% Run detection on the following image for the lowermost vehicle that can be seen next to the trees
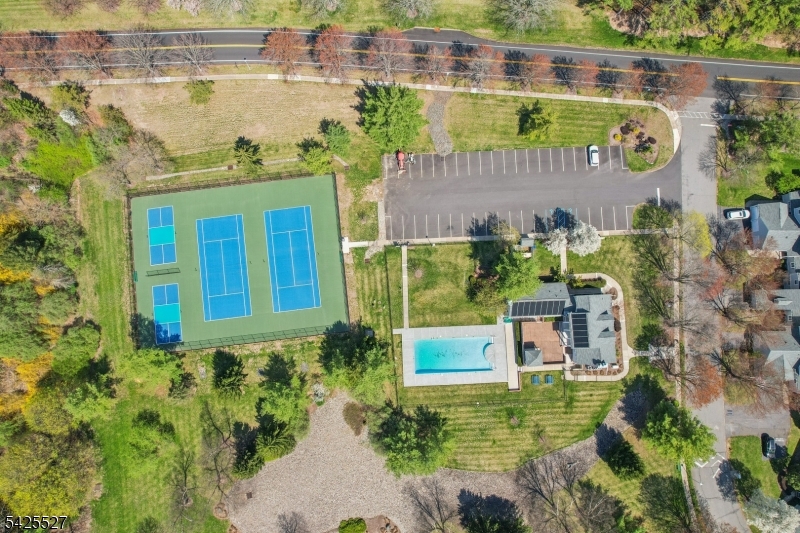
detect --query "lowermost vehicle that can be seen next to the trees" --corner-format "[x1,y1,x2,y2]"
[762,436,777,458]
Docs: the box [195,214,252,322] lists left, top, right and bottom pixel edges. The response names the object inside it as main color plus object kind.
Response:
blue tennis court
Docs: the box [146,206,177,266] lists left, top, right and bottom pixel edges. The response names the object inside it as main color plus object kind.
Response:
blue sports court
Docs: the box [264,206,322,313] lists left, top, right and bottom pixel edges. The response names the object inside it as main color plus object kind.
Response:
blue tennis court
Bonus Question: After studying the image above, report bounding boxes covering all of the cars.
[762,436,777,458]
[723,209,746,220]
[588,145,598,166]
